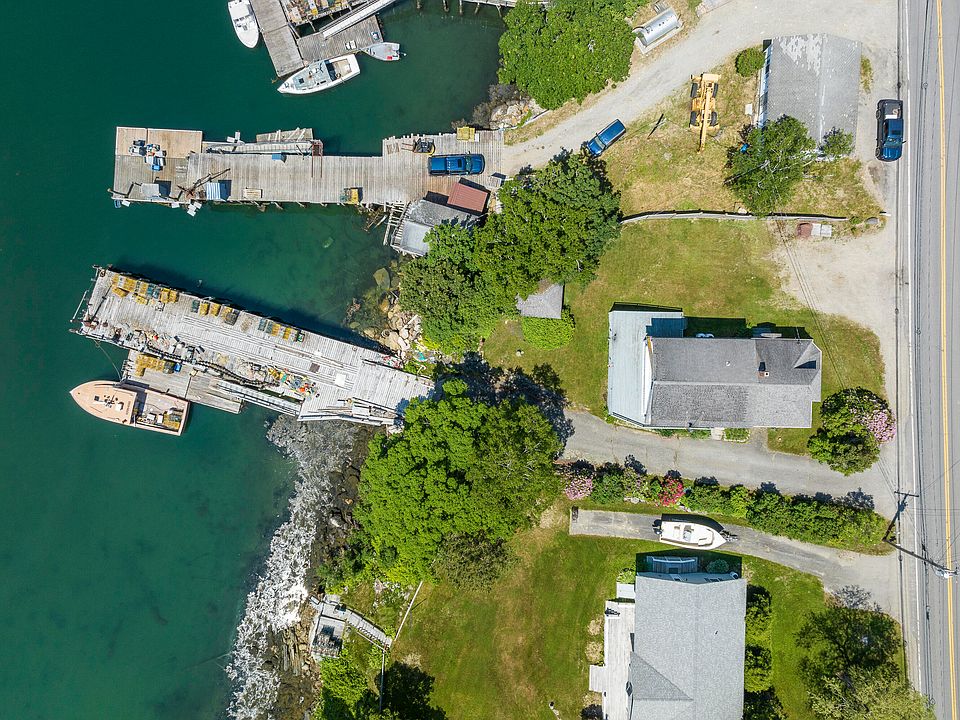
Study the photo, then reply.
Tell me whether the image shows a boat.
Yes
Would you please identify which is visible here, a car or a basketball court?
car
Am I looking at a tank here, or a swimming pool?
tank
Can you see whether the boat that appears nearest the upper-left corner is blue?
No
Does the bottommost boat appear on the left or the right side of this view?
right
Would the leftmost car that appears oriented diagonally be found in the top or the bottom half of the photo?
top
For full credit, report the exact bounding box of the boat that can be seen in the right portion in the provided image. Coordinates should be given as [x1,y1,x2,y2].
[652,519,729,547]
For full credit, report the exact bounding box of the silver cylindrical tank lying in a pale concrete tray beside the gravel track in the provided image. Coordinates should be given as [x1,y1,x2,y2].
[631,2,691,57]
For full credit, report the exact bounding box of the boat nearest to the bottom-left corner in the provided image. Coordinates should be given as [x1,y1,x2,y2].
[68,383,195,437]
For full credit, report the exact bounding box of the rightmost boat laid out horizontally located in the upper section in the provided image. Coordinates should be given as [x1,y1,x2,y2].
[362,41,405,60]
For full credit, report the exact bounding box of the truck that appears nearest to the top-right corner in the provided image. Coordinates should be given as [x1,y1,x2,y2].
[872,99,902,161]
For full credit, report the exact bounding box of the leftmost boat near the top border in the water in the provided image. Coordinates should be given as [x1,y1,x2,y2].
[225,0,259,51]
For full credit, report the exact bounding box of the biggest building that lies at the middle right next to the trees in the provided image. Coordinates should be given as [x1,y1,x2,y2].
[605,310,822,428]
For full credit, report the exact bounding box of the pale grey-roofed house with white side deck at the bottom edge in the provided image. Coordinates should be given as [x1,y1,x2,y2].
[589,557,748,720]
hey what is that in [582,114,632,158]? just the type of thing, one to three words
car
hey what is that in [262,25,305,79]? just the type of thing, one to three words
pier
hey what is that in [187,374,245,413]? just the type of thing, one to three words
pier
